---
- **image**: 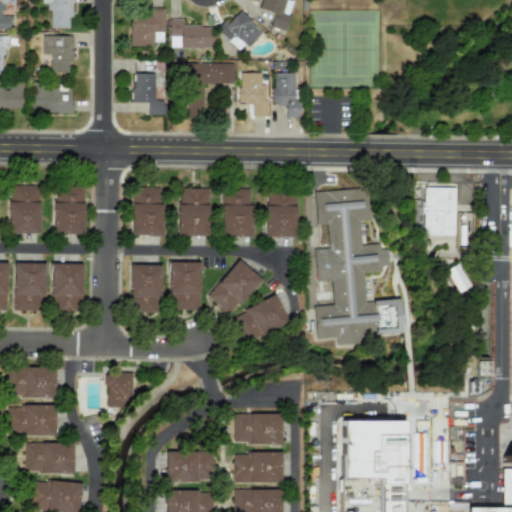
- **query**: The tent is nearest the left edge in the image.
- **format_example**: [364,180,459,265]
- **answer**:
[412,433,428,484]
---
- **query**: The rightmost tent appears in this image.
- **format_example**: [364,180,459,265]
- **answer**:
[434,441,448,466]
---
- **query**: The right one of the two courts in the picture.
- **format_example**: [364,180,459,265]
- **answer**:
[345,10,380,88]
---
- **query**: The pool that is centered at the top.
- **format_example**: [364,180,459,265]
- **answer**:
[252,41,276,56]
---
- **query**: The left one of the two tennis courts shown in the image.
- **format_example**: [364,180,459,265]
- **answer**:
[310,10,345,88]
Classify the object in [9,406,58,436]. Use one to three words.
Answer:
house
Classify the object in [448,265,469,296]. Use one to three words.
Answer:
shed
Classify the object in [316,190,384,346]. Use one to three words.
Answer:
building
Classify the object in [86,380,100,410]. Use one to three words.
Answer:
swimming pool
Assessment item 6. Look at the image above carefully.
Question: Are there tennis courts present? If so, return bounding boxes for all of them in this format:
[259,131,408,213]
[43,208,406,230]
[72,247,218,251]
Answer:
[345,10,380,88]
[310,10,345,88]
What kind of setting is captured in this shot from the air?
residential area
